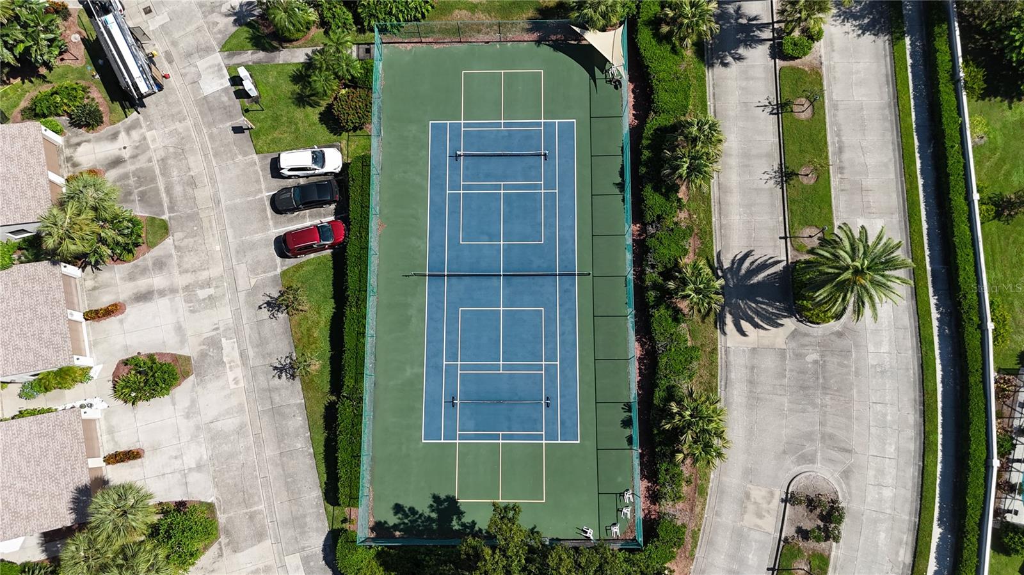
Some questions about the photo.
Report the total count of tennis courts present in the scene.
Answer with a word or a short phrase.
one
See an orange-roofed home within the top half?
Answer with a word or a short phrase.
No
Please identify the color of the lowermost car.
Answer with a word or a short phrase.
red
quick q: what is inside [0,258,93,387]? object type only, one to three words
house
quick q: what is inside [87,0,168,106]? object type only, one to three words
trailer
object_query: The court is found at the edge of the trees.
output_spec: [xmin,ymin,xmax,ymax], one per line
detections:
[373,44,632,539]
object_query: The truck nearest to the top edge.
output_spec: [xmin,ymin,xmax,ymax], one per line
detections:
[98,0,137,29]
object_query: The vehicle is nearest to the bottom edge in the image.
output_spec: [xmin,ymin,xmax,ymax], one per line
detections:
[282,219,347,256]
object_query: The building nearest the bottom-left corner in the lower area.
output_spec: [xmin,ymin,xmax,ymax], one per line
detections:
[0,407,106,541]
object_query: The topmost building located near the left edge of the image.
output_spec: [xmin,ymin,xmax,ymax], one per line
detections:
[0,113,67,239]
